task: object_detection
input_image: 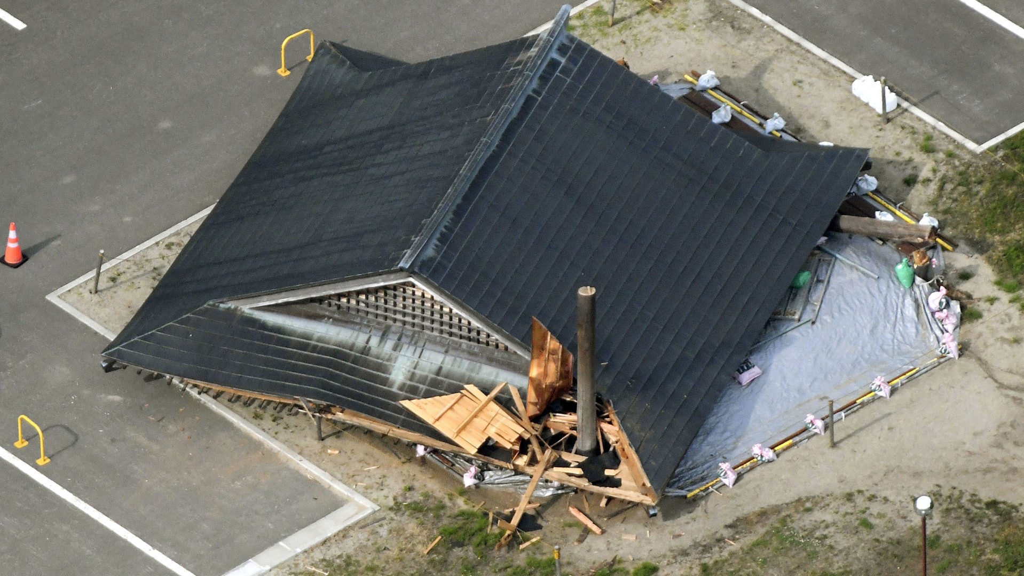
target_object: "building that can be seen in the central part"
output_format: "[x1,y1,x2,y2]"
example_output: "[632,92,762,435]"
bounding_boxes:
[98,15,870,517]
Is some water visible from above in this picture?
No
